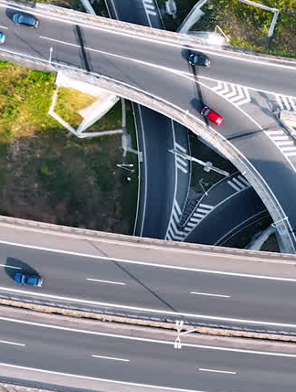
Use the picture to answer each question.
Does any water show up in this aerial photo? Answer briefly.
No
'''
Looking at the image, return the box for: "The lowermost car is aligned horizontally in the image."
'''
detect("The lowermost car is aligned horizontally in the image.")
[14,272,42,286]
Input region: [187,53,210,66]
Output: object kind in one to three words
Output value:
vehicle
